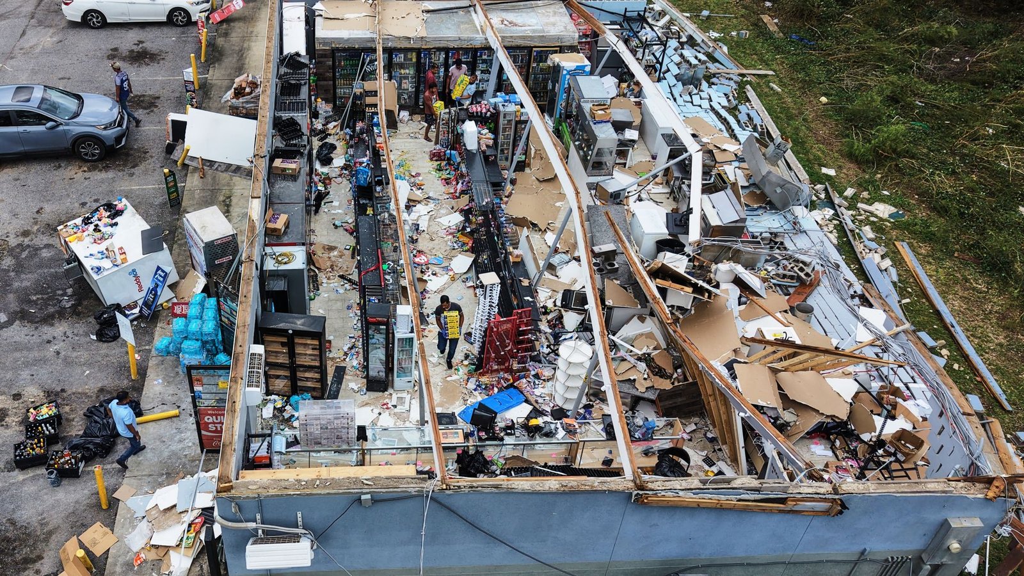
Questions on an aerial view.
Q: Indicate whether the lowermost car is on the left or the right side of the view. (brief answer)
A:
left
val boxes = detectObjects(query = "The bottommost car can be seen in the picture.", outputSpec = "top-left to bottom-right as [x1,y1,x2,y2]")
[0,79,128,162]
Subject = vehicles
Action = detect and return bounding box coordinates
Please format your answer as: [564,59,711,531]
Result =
[0,79,128,162]
[55,0,209,28]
